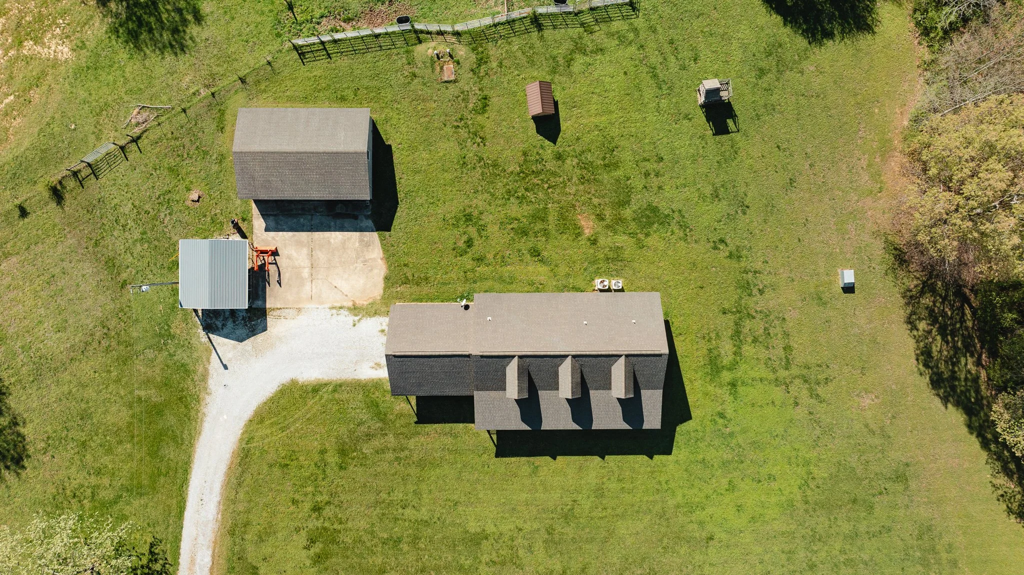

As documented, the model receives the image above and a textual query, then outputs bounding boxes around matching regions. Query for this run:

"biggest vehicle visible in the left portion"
[255,246,278,273]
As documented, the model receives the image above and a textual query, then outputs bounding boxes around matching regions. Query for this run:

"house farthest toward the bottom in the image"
[384,292,670,429]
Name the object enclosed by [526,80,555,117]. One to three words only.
shed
